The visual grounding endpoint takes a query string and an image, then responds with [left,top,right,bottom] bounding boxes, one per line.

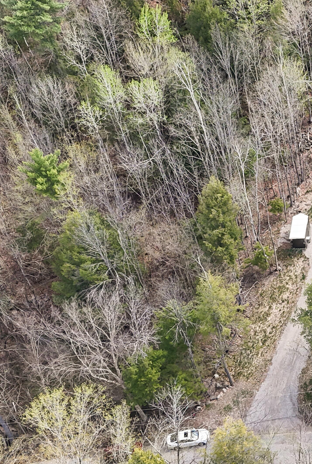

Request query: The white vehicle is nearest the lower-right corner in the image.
[165,427,210,451]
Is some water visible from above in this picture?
No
